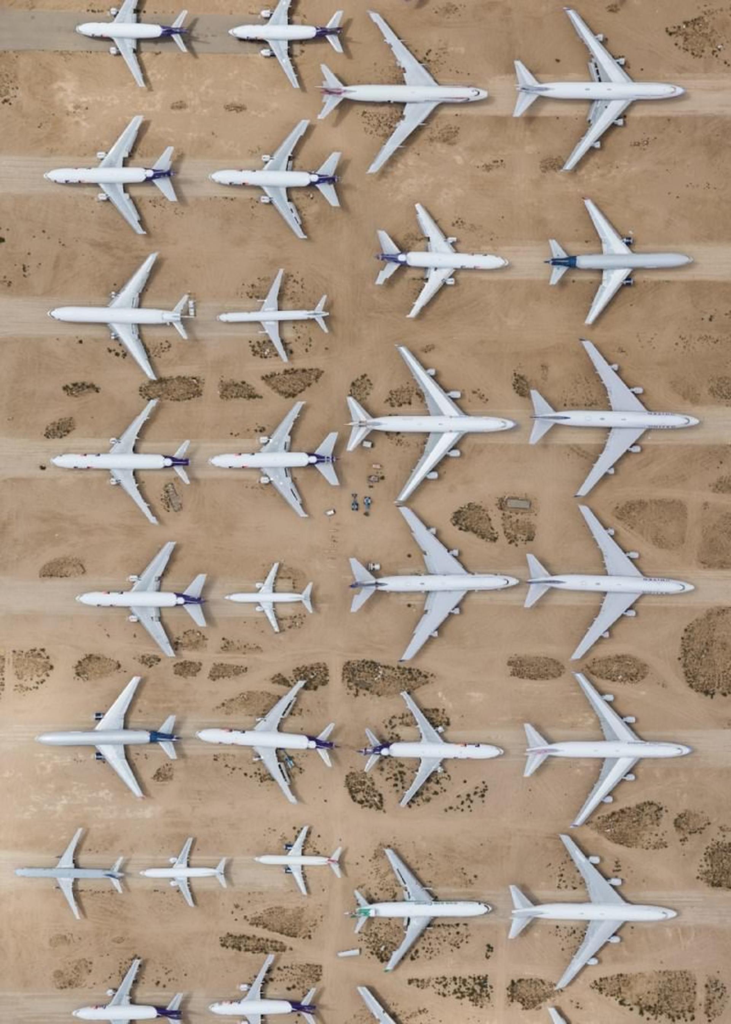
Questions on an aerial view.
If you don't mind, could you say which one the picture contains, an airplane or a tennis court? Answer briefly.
airplane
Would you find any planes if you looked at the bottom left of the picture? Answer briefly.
Yes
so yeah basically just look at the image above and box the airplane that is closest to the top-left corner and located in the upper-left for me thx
[76,0,188,86]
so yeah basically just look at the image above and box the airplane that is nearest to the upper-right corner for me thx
[516,10,685,169]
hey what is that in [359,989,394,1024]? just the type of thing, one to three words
airplane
